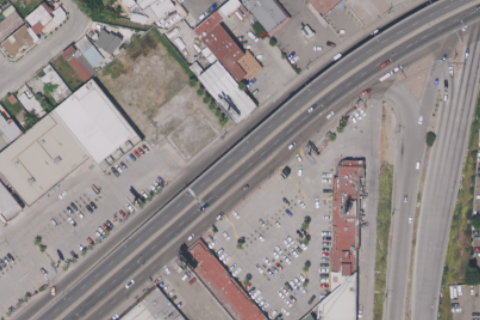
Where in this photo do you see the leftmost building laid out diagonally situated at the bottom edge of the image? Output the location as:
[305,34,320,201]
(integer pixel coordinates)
[186,238,268,320]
